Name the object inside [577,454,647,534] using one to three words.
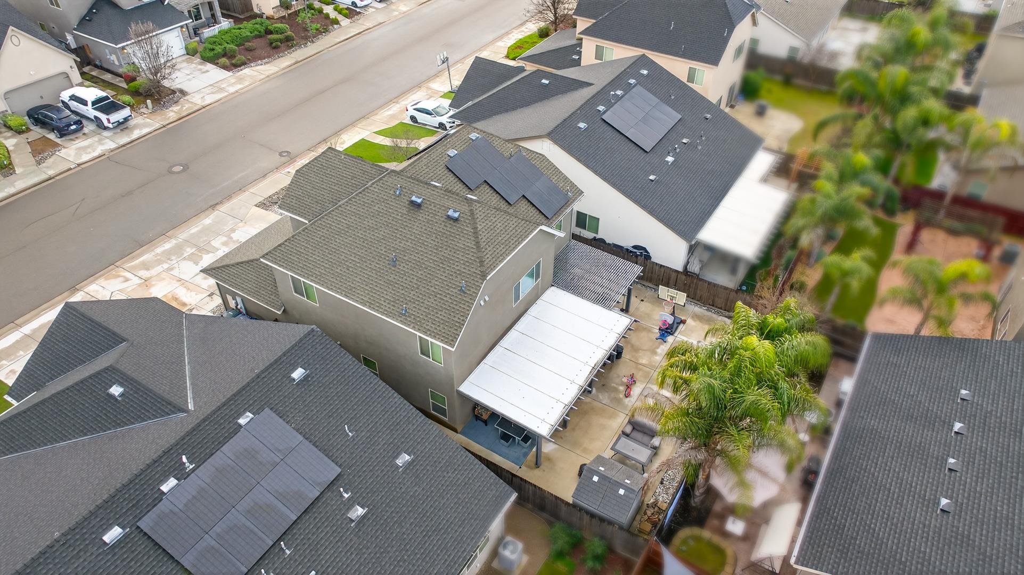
shed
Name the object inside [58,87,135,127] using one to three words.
truck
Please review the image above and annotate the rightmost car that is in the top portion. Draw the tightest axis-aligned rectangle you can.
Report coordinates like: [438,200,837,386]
[405,99,453,130]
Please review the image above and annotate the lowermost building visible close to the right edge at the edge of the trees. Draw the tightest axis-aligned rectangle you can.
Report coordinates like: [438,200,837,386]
[784,332,1024,575]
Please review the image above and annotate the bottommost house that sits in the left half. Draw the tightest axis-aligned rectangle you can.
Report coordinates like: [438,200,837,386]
[0,298,519,575]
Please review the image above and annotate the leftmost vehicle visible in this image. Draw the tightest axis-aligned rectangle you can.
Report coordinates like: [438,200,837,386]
[25,104,82,136]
